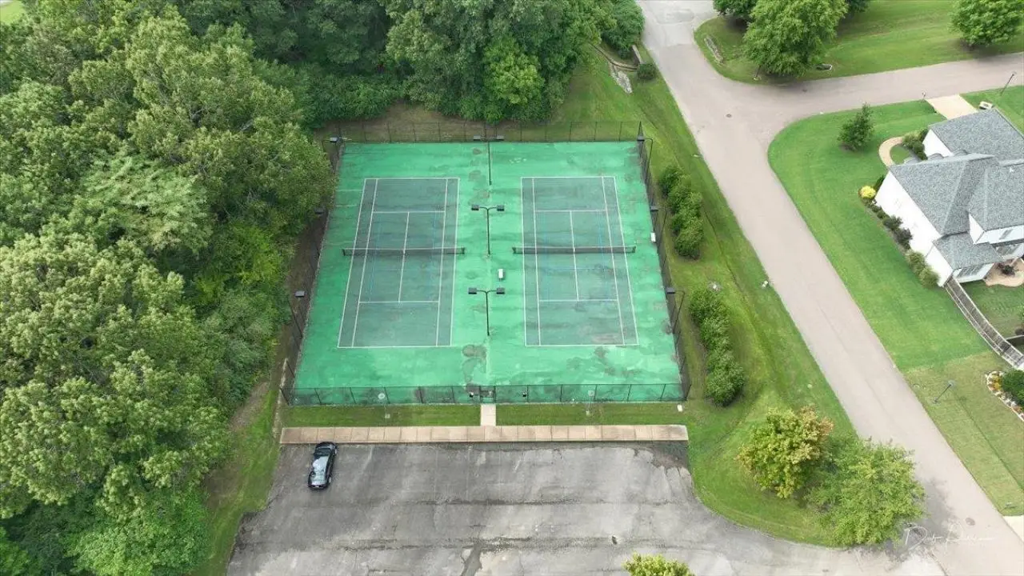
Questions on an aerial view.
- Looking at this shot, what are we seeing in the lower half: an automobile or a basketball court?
automobile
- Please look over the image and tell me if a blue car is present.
No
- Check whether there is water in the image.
No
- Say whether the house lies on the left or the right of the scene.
right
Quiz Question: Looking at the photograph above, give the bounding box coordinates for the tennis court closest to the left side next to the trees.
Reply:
[289,141,491,405]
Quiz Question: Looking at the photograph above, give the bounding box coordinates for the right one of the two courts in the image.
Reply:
[488,140,685,403]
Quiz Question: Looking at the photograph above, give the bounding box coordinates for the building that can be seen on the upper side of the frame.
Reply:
[879,108,1024,286]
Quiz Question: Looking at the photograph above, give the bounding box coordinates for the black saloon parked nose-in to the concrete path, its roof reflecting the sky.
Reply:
[306,441,335,490]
